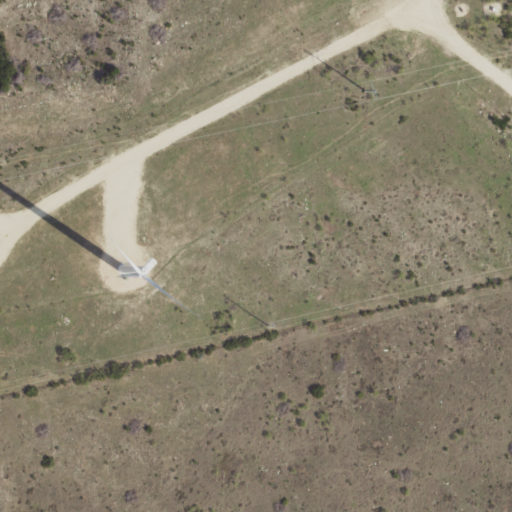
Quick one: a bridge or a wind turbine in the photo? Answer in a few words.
wind turbine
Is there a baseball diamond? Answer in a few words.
No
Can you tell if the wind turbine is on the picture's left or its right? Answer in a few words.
left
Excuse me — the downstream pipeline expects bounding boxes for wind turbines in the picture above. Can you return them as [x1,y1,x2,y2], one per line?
[110,240,198,314]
